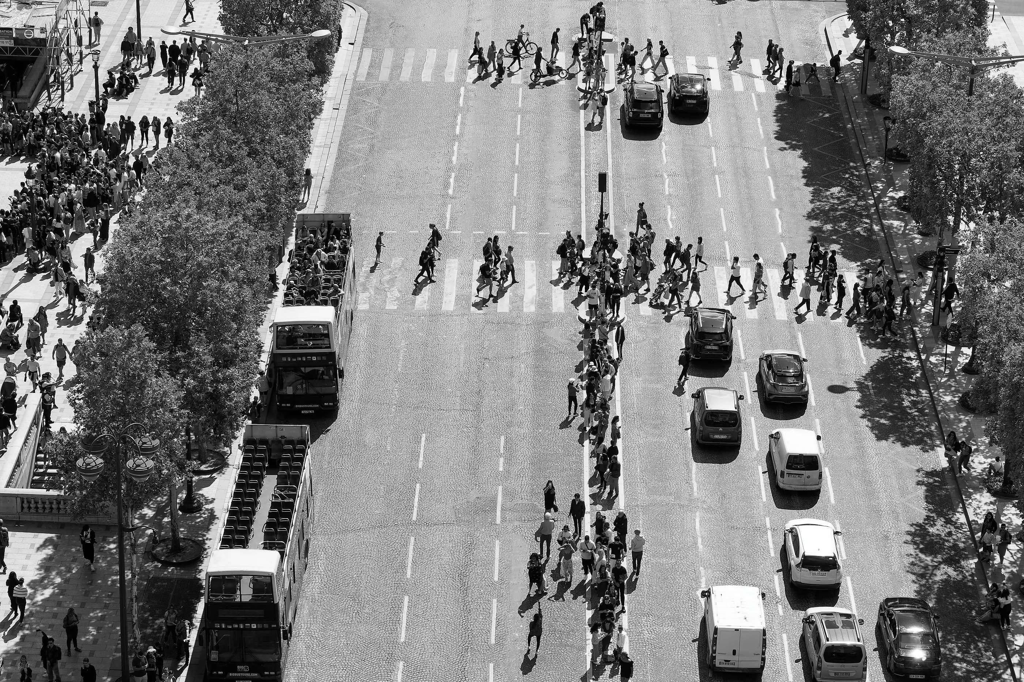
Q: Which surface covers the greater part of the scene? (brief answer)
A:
paved ground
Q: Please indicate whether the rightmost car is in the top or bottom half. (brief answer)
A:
bottom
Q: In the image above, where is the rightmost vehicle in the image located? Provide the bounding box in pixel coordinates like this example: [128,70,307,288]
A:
[875,602,941,681]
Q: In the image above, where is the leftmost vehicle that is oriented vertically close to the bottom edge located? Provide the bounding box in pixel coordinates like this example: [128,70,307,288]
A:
[196,421,312,682]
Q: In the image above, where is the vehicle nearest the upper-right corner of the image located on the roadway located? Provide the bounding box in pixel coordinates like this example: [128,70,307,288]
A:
[667,72,709,113]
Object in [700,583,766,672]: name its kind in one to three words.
van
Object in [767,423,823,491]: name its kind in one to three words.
van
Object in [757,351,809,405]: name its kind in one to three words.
car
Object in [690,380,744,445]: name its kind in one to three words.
car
